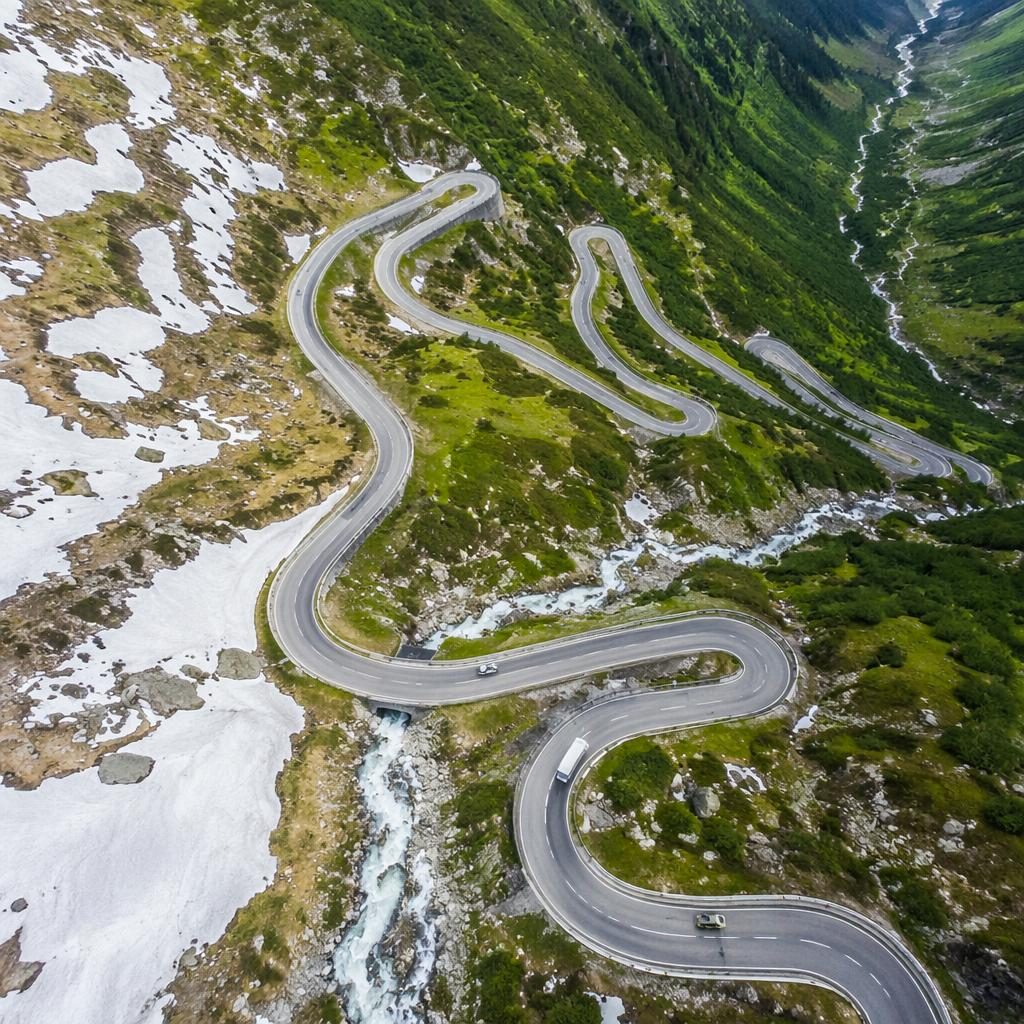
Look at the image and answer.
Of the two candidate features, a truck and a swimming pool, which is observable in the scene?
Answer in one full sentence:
Visible in the photo is a truck.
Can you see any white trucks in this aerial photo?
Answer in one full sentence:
Yes, a white truck appears in the view.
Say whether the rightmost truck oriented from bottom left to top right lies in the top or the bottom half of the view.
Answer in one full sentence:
Seen from above, the rightmost truck oriented from bottom left to top right lies in the bottom half of the view.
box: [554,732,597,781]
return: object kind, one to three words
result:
truck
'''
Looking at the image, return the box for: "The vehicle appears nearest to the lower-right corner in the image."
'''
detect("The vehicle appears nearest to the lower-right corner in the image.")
[694,912,726,929]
